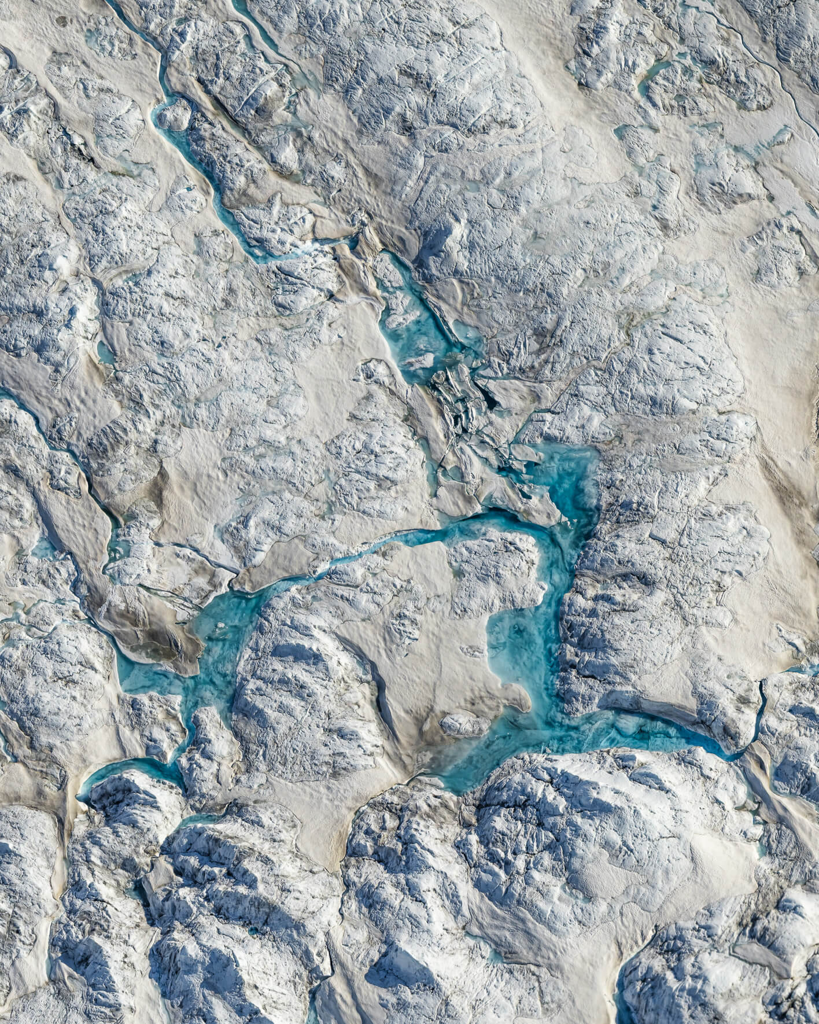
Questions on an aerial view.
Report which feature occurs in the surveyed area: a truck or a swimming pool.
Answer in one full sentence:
Of the two, only a swimming pool appears.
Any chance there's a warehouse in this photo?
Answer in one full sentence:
No, I can't see a single warehouse in this photo.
